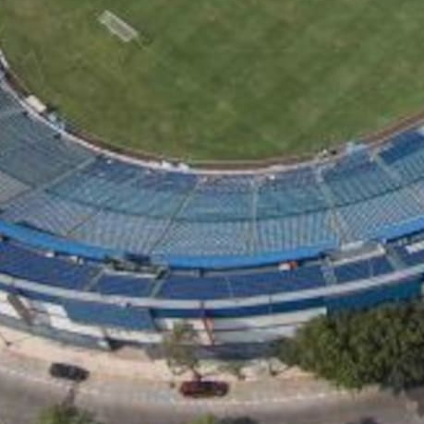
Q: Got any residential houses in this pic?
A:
No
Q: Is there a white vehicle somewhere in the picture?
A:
No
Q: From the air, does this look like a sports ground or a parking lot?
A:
sports ground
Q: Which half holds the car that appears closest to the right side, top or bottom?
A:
bottom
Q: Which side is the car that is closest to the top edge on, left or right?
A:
left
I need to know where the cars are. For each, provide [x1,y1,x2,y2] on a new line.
[183,379,224,400]
[47,360,89,384]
